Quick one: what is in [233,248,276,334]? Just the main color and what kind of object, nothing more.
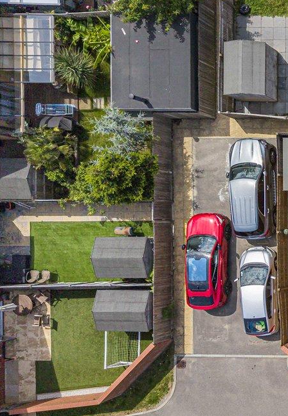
white car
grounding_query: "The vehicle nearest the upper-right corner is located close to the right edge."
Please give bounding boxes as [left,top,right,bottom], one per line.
[226,138,276,238]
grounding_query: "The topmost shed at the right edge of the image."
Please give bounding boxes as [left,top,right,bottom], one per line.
[224,38,277,100]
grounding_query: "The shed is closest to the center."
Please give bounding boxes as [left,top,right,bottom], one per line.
[89,237,154,278]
